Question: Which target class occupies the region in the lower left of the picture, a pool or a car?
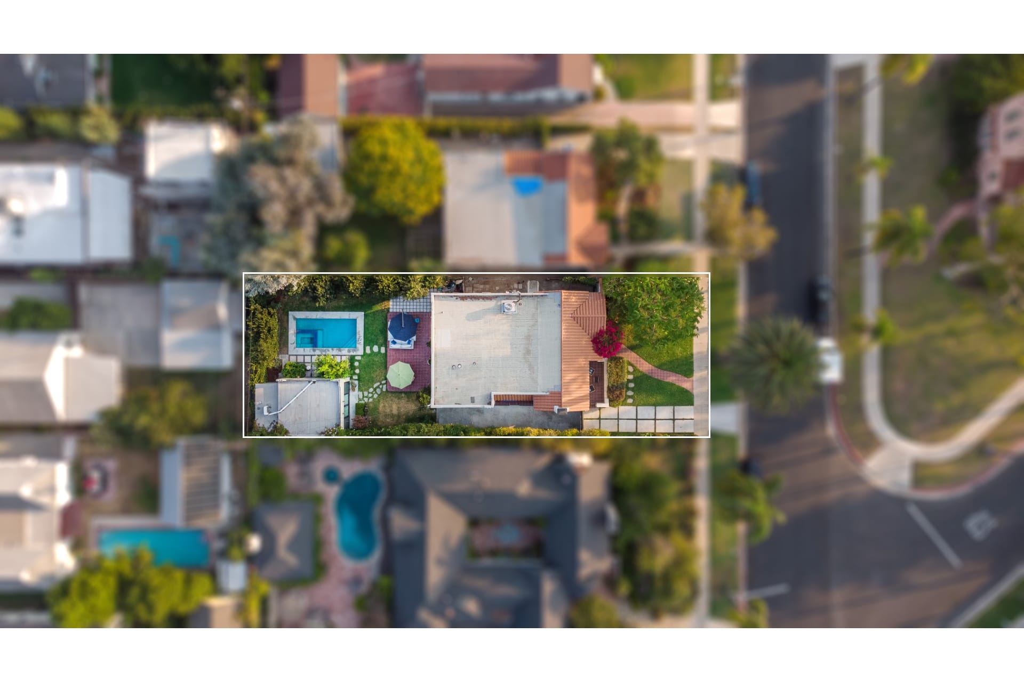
pool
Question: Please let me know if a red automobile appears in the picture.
No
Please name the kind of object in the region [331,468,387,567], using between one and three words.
swimming pool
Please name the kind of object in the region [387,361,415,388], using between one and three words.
umbrella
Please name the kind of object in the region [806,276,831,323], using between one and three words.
car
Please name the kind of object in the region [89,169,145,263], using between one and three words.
building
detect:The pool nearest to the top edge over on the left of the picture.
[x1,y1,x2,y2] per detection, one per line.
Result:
[288,312,364,355]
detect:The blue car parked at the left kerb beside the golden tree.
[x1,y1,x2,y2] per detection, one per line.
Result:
[740,161,763,208]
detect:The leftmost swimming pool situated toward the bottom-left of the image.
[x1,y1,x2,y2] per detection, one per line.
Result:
[91,518,214,573]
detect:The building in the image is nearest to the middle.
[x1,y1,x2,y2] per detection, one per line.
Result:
[431,291,608,415]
